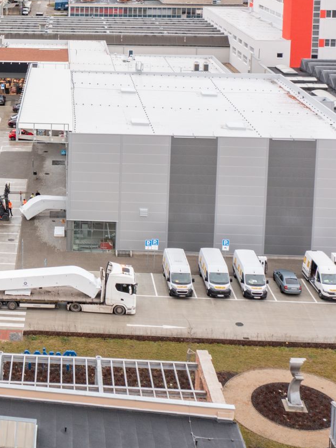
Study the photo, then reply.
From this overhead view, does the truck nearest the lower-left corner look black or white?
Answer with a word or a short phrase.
white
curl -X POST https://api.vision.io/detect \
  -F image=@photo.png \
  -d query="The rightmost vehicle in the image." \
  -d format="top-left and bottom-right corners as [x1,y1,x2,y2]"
[311,258,336,297]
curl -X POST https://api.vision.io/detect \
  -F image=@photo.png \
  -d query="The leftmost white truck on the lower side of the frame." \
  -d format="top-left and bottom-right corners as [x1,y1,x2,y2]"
[0,266,139,314]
